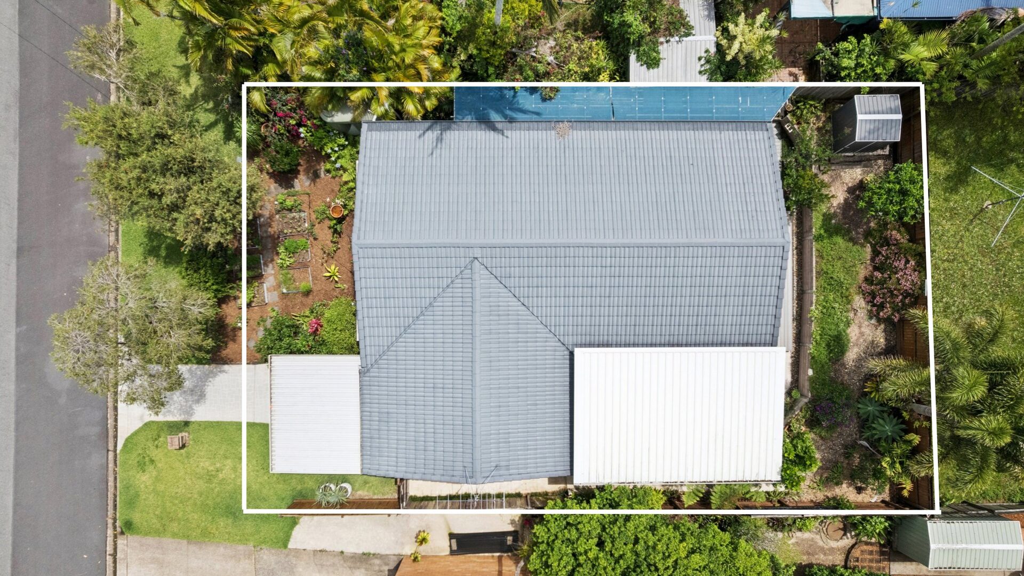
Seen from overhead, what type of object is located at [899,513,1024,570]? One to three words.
shed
